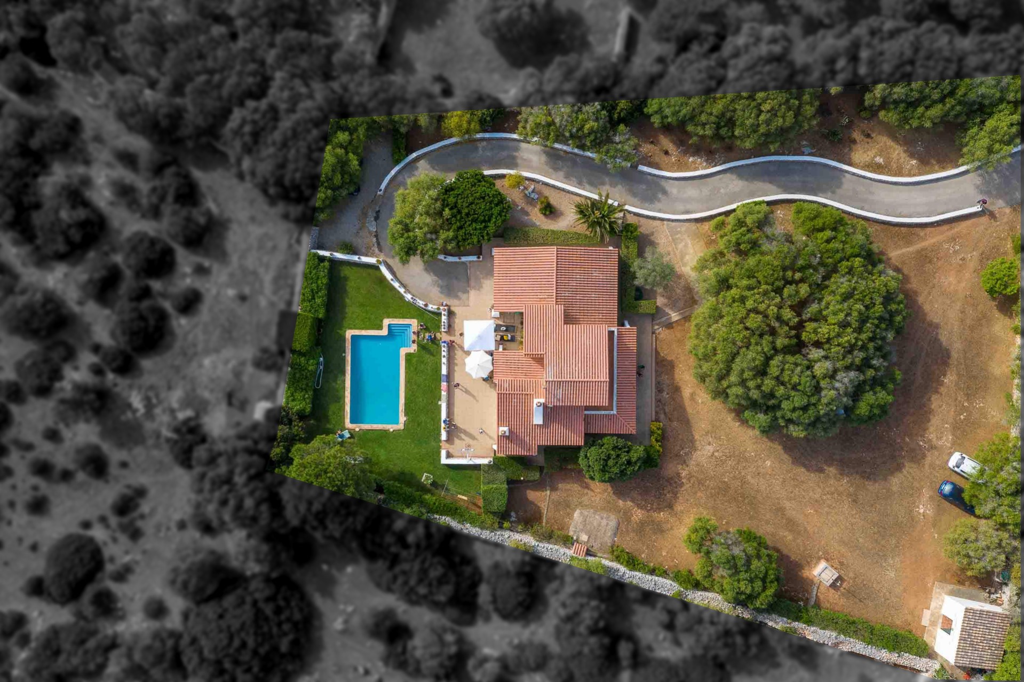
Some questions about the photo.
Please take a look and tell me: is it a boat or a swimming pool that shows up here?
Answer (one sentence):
I can see a swimming pool in this picture.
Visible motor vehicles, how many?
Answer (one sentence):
My tally gives 2 motor vehicles in this view.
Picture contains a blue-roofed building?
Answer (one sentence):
No, no blue-roofed building can be seen from above.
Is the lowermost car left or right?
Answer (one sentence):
The lowermost car sits on the right side.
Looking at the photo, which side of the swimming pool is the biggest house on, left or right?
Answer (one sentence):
The swimming pool has the biggest house on its right side.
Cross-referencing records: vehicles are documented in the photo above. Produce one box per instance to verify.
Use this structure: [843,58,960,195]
[950,452,990,483]
[939,480,975,514]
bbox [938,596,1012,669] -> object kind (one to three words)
shed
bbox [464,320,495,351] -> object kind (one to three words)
gazebo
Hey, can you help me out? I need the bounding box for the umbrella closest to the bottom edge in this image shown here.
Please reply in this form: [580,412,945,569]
[464,350,494,380]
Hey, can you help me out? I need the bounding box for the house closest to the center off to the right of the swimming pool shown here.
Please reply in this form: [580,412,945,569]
[491,246,638,456]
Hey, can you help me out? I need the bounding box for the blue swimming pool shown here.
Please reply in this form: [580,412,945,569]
[346,319,417,432]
